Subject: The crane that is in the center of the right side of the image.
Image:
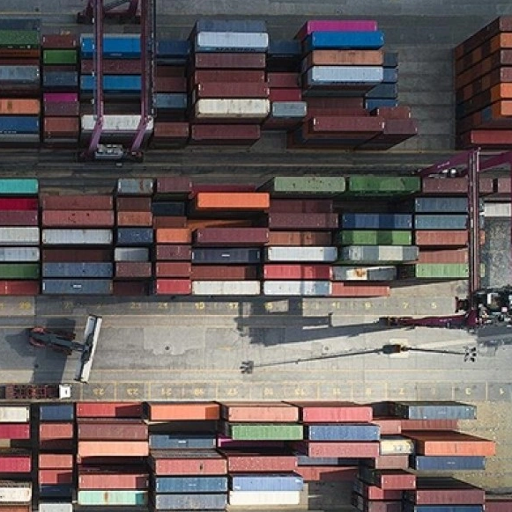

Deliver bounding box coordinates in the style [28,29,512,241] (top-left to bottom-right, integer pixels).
[375,148,512,333]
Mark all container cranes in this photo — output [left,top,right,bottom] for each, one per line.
[67,0,152,155]
[375,148,512,333]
